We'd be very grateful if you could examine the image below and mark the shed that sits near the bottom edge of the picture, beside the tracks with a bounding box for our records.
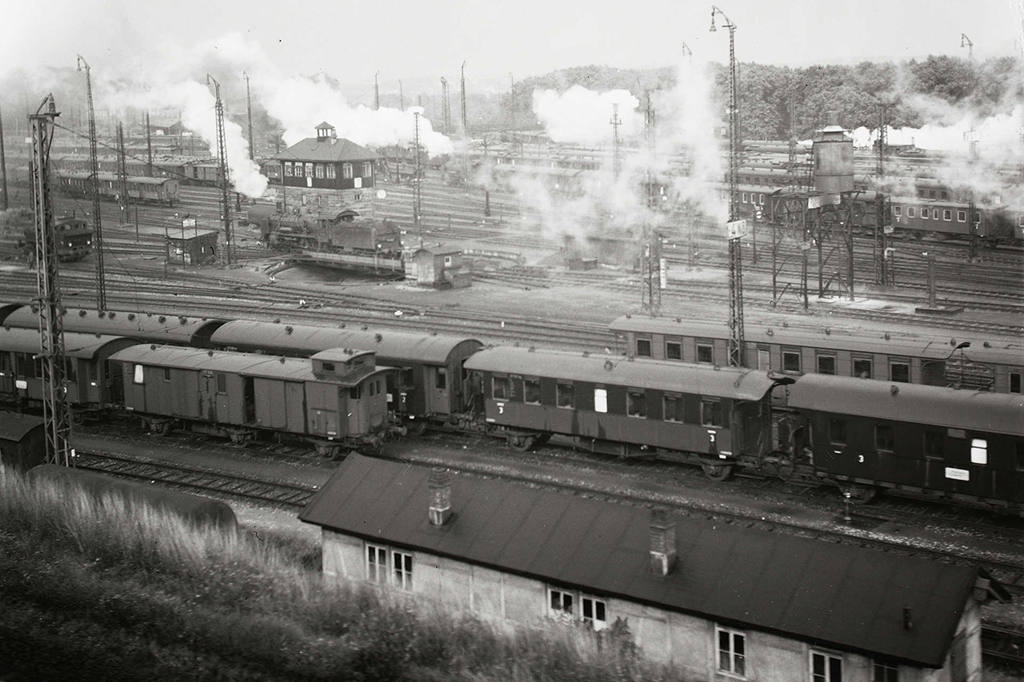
[299,451,1011,682]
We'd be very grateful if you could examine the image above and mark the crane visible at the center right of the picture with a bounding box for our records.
[904,247,970,318]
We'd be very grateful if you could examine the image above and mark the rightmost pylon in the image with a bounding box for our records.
[966,128,980,260]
